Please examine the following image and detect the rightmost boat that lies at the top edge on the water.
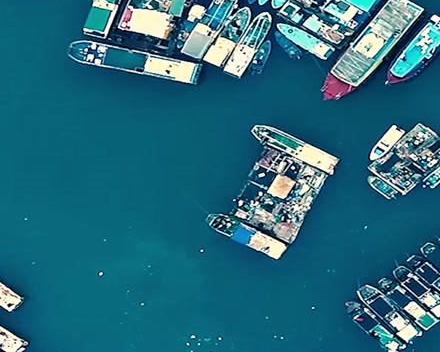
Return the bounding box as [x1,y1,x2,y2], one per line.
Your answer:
[386,12,440,85]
